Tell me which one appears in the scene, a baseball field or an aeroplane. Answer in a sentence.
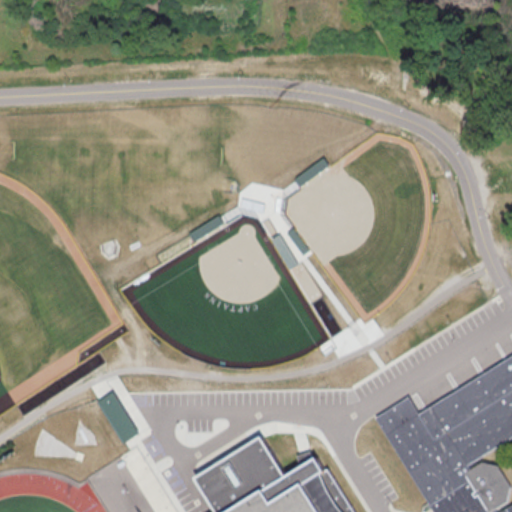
This aerial view contains a baseball field.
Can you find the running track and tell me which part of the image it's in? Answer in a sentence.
The running track is in the bottom left part of the image.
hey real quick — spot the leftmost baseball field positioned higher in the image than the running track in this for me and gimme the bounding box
[0,174,122,414]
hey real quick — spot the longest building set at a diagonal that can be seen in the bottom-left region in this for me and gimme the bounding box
[100,390,138,442]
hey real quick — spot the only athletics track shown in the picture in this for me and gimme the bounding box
[0,468,106,512]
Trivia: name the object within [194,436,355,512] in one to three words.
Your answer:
building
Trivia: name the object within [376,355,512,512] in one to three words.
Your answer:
building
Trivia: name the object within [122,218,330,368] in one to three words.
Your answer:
baseball field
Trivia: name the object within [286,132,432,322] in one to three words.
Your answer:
baseball field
